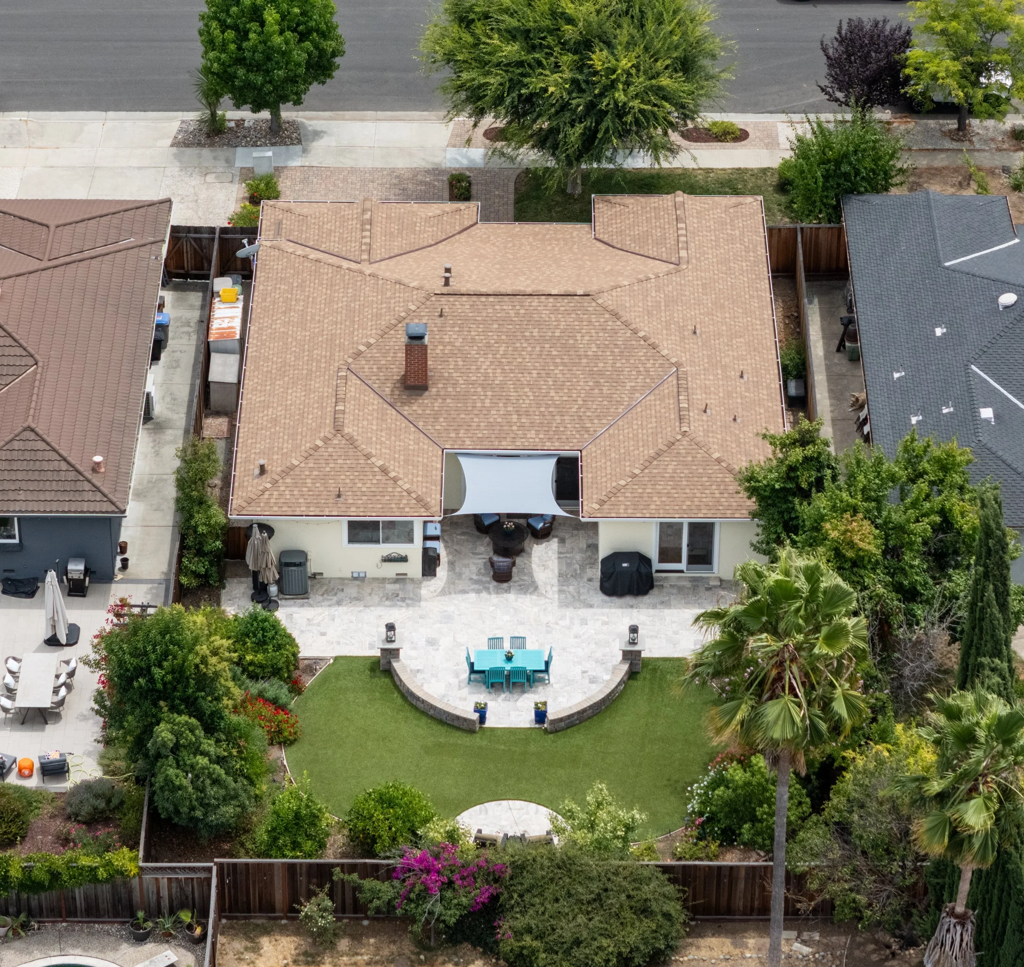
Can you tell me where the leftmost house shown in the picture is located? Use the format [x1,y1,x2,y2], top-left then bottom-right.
[0,195,175,580]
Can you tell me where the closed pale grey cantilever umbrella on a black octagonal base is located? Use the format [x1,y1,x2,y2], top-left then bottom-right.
[44,560,80,644]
